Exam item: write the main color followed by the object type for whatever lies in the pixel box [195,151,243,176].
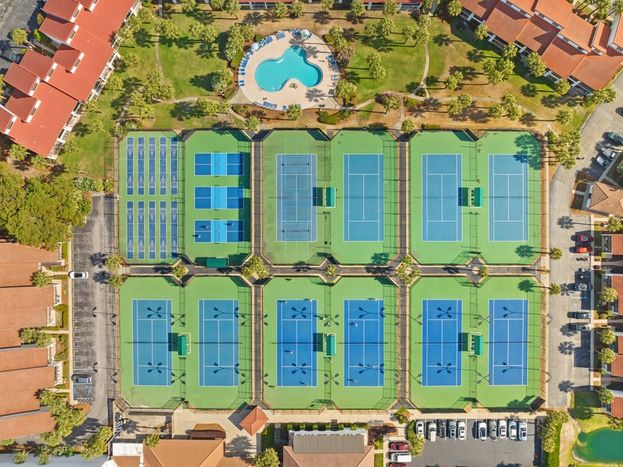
blue sports court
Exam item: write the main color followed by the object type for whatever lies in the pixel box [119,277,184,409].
green tennis court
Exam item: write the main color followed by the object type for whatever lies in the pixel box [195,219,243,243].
blue sports court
